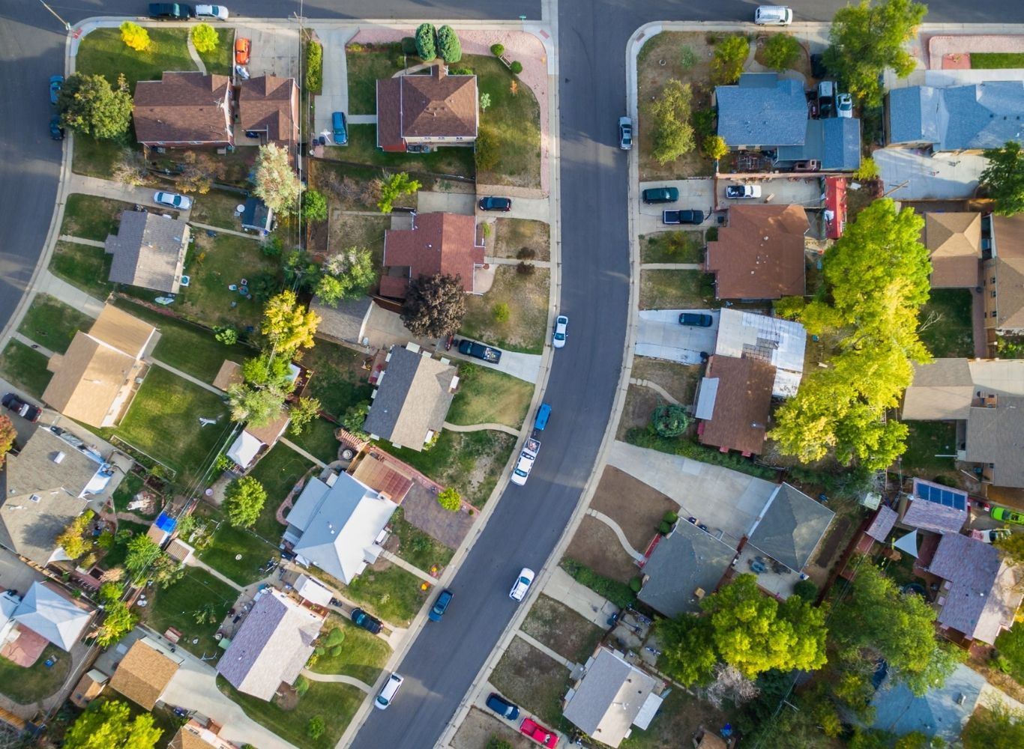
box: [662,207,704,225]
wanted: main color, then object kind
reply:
black vehicle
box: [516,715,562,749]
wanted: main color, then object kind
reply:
red truck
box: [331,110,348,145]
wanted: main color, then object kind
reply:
blue car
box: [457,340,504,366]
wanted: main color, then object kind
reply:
black truck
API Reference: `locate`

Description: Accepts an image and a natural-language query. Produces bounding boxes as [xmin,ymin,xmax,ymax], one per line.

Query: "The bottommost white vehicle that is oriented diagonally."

[373,669,404,711]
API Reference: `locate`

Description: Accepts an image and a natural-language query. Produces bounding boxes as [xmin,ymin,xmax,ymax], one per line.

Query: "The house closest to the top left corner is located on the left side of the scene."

[130,71,239,147]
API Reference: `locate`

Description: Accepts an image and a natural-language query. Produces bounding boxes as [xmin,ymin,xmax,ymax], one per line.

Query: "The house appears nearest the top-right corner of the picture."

[882,78,1024,156]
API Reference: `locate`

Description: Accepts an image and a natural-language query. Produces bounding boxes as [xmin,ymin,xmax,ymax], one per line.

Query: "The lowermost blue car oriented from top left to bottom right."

[483,691,522,722]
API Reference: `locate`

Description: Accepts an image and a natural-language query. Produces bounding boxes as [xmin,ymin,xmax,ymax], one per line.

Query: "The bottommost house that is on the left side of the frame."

[167,718,242,749]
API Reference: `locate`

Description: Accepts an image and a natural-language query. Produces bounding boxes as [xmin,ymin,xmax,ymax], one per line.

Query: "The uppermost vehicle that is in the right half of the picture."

[754,3,793,25]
